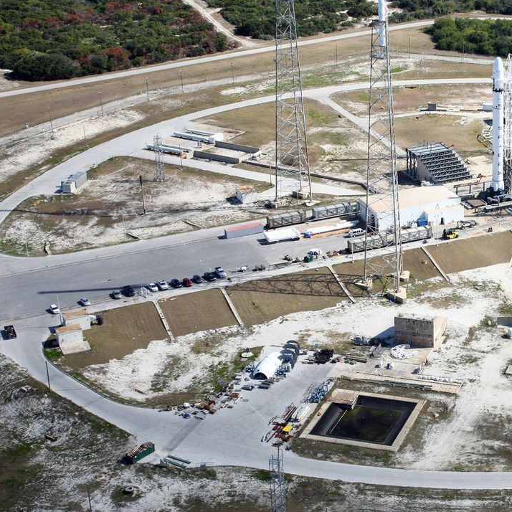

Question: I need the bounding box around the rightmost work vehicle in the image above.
[444,227,459,240]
